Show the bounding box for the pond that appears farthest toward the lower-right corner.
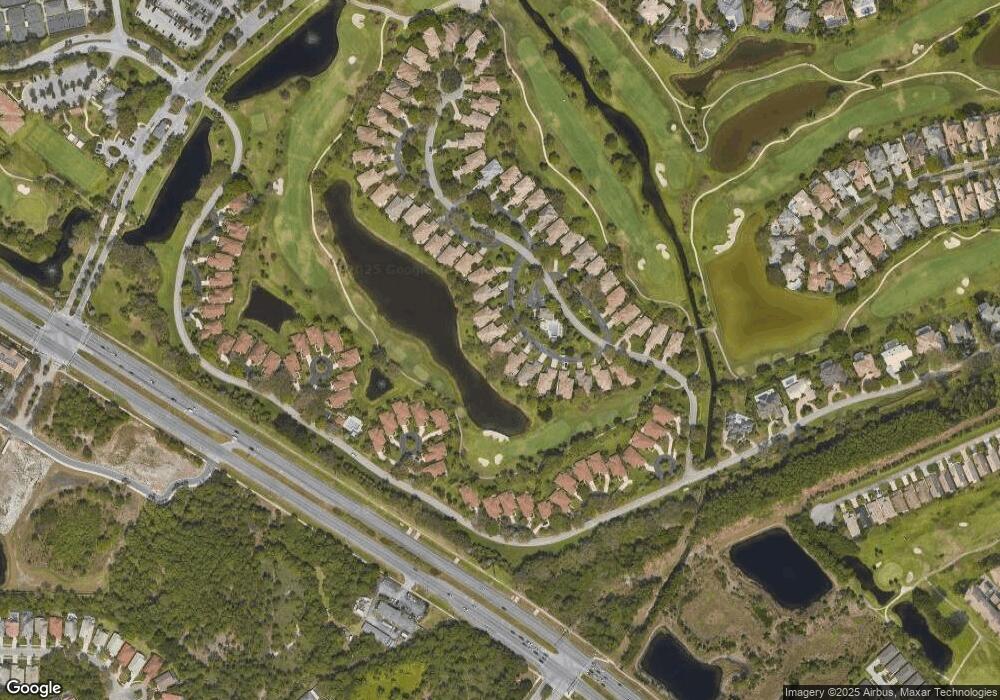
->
[894,602,952,671]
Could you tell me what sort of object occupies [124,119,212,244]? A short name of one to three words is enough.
pond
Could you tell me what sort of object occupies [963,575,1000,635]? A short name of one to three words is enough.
building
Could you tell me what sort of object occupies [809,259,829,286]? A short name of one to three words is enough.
house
